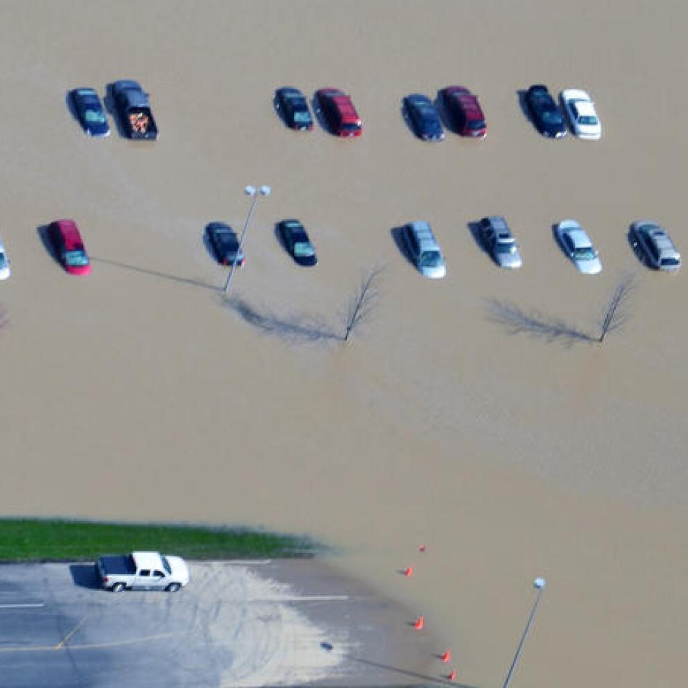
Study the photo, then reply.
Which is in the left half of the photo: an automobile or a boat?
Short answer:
automobile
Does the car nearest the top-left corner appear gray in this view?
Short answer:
No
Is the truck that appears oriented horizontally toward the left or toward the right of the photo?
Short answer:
left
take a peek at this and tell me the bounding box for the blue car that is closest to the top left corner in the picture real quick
[72,88,110,138]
